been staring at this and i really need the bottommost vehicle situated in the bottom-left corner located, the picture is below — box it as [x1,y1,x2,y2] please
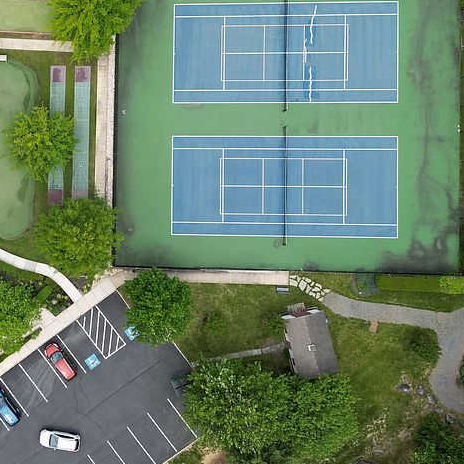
[38,427,82,450]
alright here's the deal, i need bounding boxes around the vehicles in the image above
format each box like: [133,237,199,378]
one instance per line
[43,341,78,380]
[38,427,82,450]
[0,385,23,427]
